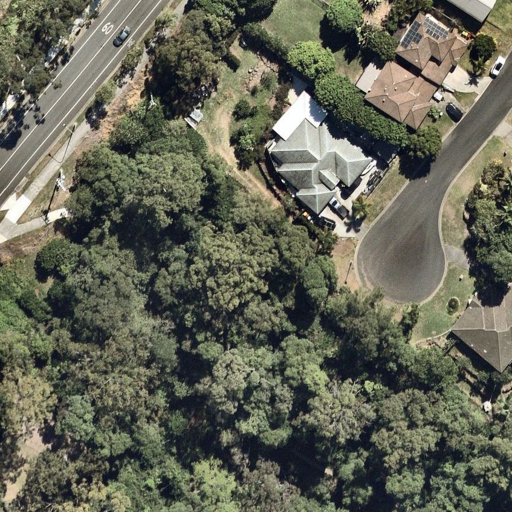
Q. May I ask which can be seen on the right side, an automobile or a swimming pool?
automobile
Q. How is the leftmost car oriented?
on a diagonal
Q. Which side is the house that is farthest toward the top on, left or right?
right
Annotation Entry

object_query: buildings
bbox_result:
[395,14,468,86]
[271,93,373,215]
[356,62,438,130]
[445,0,497,24]
[451,287,512,373]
